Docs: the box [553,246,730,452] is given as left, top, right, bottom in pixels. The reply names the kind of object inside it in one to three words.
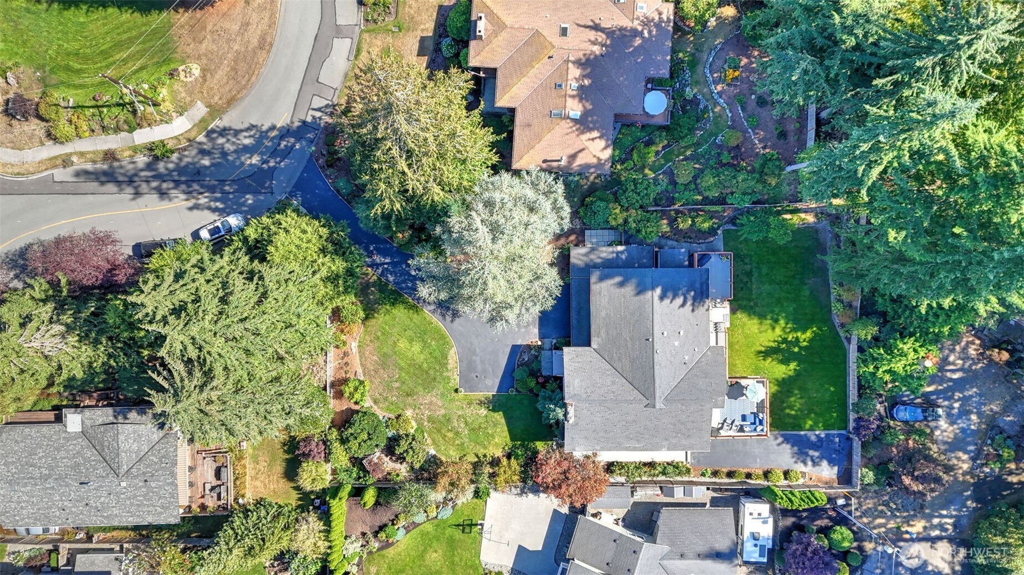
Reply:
house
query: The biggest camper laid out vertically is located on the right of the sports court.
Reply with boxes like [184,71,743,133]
[736,487,773,561]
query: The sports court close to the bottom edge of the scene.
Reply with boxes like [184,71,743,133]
[481,492,568,575]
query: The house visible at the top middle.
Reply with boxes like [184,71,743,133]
[468,0,673,174]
